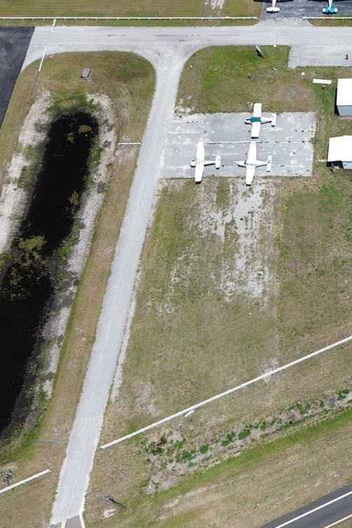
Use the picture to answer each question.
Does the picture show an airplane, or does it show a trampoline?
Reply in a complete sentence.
The one in the frame is an airplane.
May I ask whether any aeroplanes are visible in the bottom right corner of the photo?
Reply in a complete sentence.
No, no aeroplane appears in the bottom right corner of the photo.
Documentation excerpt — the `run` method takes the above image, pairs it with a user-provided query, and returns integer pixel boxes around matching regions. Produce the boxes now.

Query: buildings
[328,136,352,168]
[338,78,352,115]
